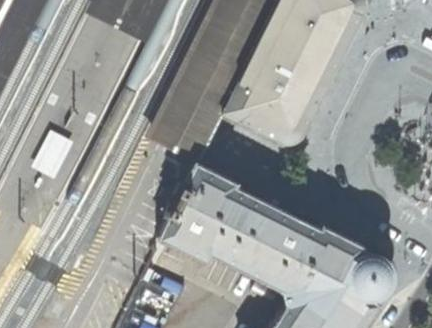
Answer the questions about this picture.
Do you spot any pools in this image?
No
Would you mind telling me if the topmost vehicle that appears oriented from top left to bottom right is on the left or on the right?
right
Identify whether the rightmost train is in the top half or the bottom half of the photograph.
top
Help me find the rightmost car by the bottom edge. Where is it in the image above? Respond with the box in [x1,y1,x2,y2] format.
[382,304,399,326]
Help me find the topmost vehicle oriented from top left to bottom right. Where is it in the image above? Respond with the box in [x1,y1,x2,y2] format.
[379,222,404,242]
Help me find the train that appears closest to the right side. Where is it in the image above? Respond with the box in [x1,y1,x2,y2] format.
[64,0,185,202]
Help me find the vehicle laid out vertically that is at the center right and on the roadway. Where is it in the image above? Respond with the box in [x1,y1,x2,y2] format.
[336,163,348,186]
